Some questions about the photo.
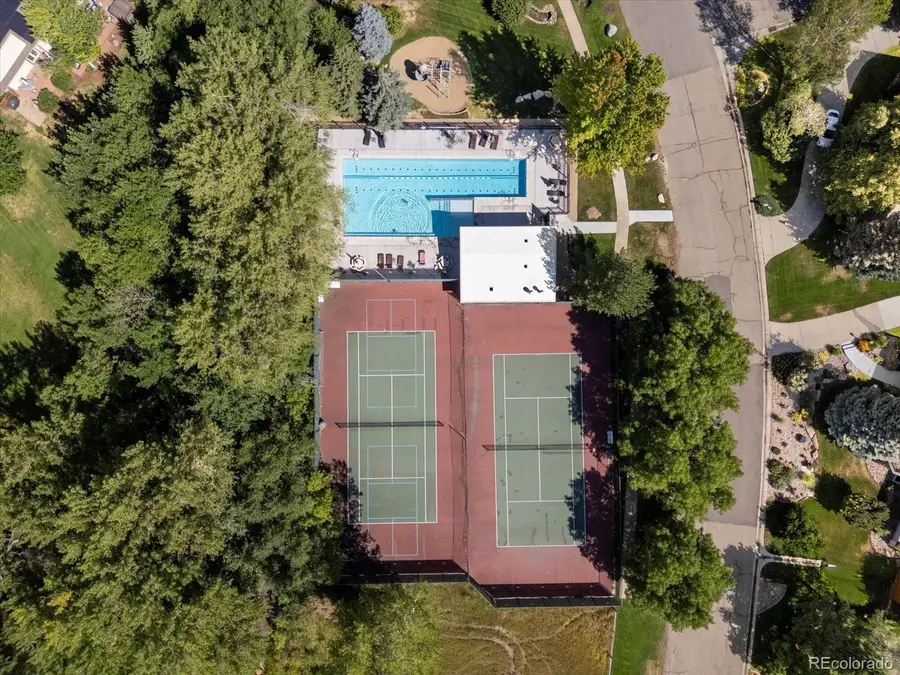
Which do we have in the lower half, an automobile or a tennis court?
tennis court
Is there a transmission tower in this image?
No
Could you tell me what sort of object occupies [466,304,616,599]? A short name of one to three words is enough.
tennis court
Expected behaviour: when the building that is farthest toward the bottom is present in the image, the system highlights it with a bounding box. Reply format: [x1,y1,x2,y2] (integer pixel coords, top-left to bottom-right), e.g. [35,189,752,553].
[460,227,557,304]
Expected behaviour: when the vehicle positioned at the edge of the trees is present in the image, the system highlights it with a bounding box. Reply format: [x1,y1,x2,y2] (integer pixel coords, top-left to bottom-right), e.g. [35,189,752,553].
[819,105,845,145]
